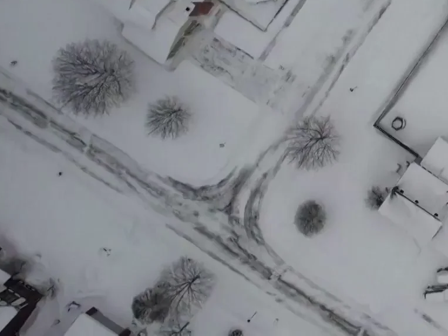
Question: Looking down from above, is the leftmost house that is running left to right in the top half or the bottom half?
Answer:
bottom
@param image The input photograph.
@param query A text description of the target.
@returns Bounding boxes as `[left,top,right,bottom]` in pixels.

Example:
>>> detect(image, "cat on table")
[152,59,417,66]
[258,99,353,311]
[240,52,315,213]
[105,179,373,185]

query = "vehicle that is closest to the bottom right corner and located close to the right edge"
[423,287,448,304]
